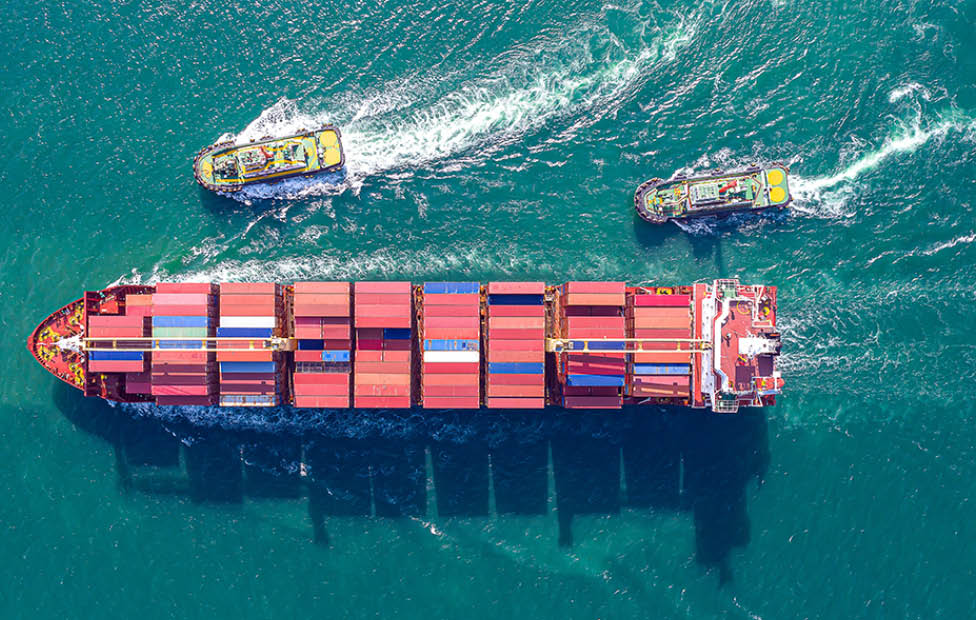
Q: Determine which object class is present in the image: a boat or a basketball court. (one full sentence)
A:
This aerial view contains a boat.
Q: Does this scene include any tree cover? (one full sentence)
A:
No, the scene doesn't show any tree cover.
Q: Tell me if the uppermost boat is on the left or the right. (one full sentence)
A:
It is on the left.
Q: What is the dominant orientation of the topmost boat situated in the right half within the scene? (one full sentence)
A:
The topmost boat situated in the right half is oriented from left to right.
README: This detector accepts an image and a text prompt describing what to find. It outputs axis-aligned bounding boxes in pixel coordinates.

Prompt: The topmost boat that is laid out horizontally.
[192,123,345,188]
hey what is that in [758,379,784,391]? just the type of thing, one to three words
boat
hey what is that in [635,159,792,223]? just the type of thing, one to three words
boat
